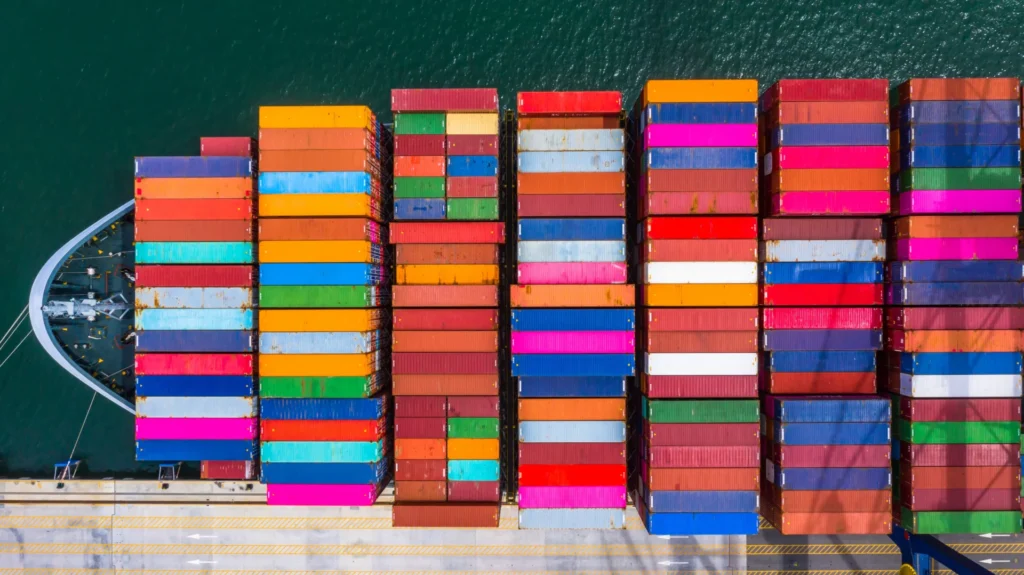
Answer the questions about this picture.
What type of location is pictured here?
port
